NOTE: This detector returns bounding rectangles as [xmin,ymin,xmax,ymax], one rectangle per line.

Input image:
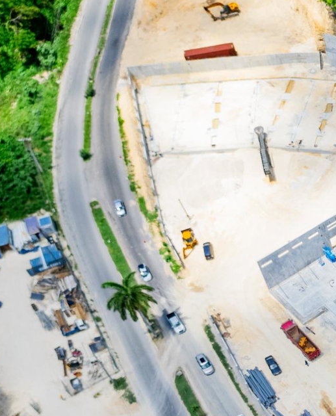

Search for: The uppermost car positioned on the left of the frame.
[112,197,125,215]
